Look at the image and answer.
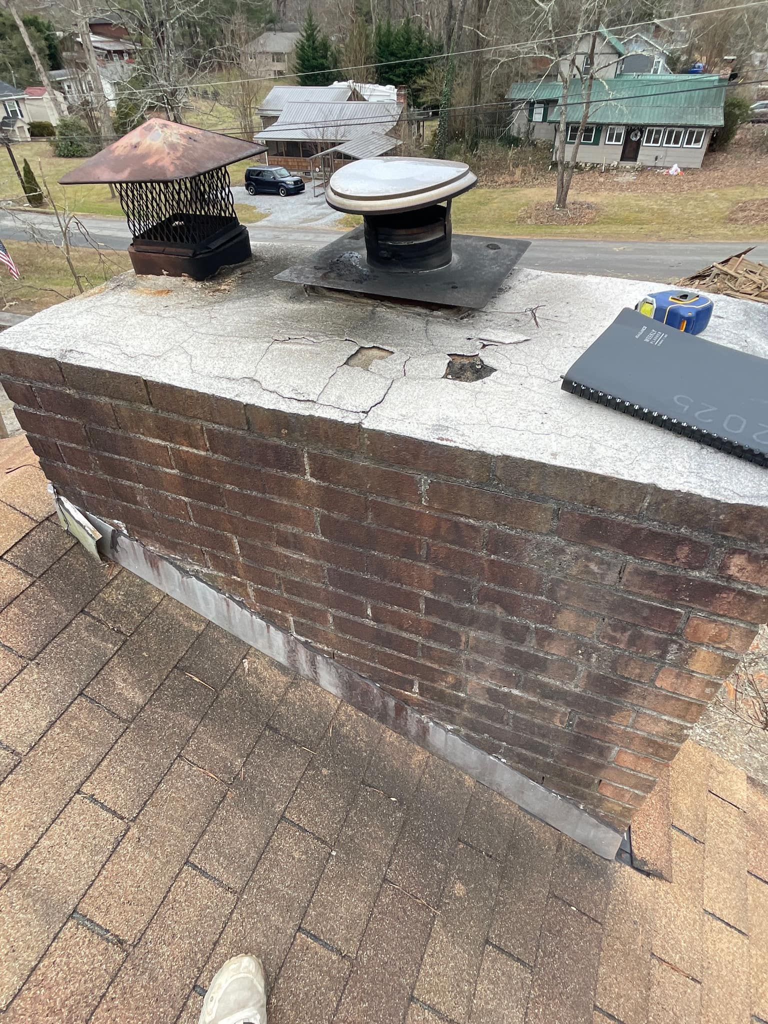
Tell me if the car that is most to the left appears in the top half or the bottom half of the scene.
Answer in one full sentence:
The car that is most to the left is in the top half of the image.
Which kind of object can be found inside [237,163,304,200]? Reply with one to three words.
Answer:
car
